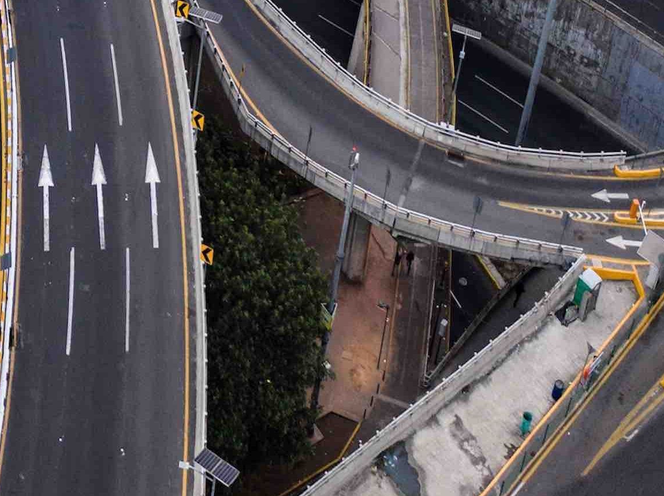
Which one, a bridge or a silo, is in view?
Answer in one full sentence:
The image shows a bridge.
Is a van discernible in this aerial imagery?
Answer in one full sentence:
No, the picture doesn't show any van.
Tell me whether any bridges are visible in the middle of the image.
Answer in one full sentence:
Yes, in the middle of the image there is a bridge.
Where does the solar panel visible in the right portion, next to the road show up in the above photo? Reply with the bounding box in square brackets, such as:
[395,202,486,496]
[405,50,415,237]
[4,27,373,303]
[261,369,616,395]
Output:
[452,24,482,39]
